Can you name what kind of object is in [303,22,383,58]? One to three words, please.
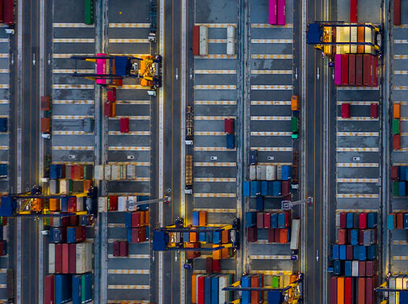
container crane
